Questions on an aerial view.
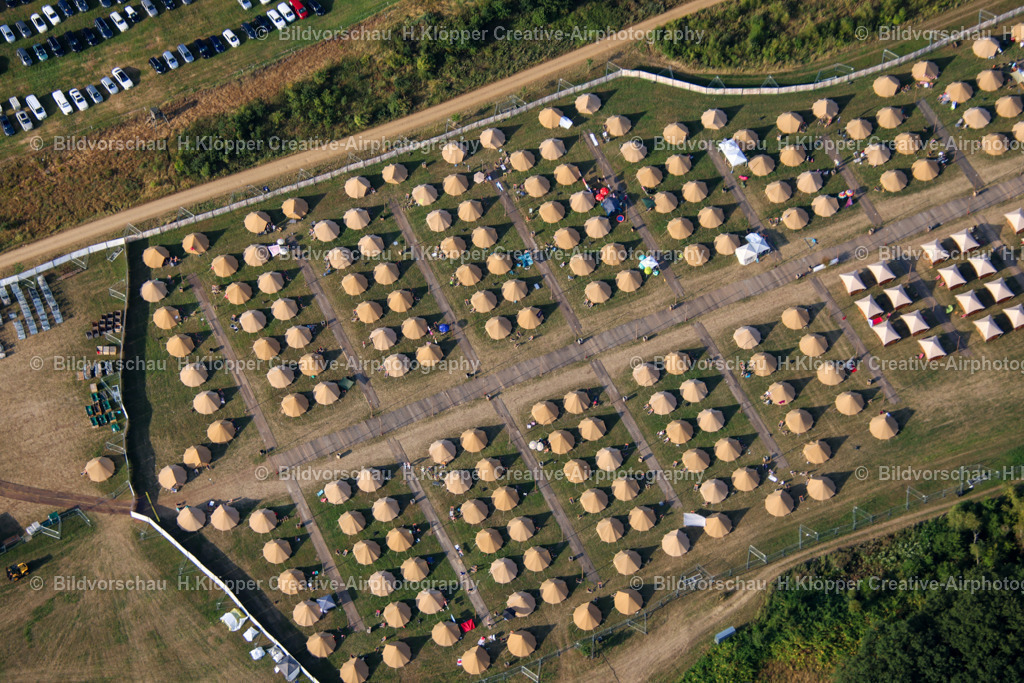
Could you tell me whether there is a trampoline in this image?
No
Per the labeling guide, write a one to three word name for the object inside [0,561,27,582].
work vehicle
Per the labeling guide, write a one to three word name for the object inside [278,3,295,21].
car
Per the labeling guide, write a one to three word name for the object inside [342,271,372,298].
tent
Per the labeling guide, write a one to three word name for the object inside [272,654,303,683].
gazebo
